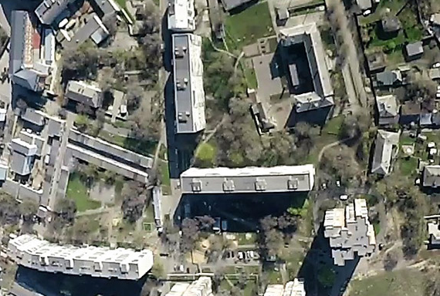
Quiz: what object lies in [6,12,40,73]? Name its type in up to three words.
building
